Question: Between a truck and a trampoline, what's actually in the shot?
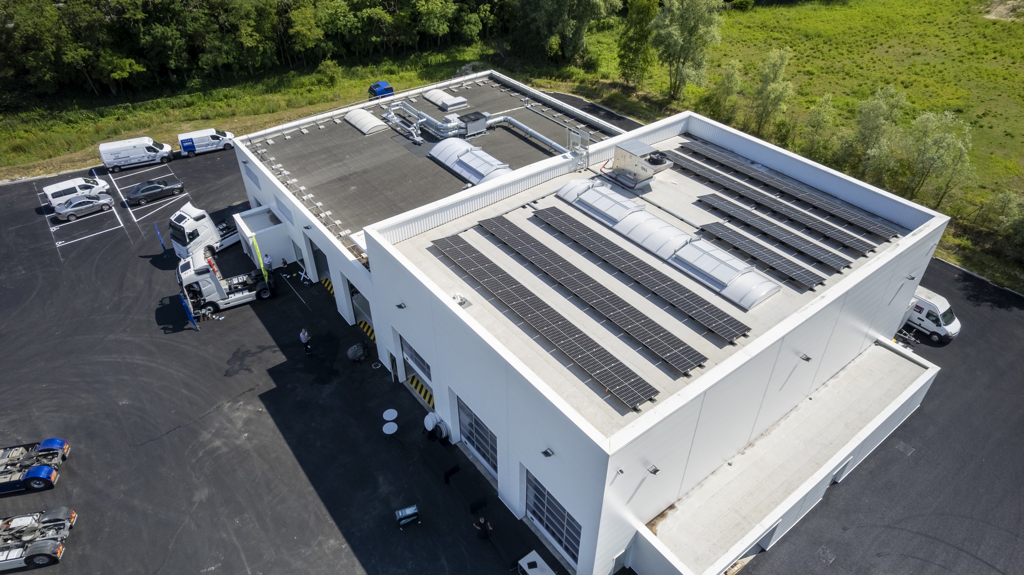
truck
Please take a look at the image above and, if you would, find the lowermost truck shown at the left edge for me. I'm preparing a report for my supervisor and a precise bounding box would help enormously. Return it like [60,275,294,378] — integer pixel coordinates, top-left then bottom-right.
[0,506,74,568]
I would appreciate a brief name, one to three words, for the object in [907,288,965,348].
van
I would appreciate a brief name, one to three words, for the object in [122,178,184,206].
car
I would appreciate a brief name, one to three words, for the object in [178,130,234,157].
vehicle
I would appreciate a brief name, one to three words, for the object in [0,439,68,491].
truck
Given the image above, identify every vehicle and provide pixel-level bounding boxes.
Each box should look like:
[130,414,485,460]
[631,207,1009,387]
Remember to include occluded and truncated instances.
[166,205,239,264]
[177,250,276,316]
[178,130,234,157]
[907,288,965,348]
[42,176,111,208]
[96,136,172,173]
[0,439,68,491]
[53,193,115,221]
[0,506,74,568]
[363,81,401,103]
[122,178,184,206]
